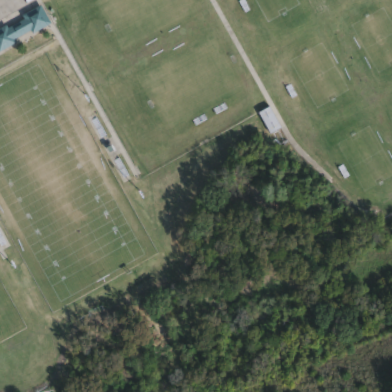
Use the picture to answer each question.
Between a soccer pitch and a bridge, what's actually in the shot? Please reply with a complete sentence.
It is a soccer pitch that can be seen here.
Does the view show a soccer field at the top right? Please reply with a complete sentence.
Yes, looking at the top right, one can make out a soccer field.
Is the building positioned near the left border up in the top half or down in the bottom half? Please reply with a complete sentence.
Seen from above, the building positioned near the left border lies in the top half of the view.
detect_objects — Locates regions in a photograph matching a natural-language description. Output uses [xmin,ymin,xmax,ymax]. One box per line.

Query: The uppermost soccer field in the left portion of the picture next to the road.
[94,0,209,55]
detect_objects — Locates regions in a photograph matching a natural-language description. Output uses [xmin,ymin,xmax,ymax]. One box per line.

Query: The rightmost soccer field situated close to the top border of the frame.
[352,5,392,72]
